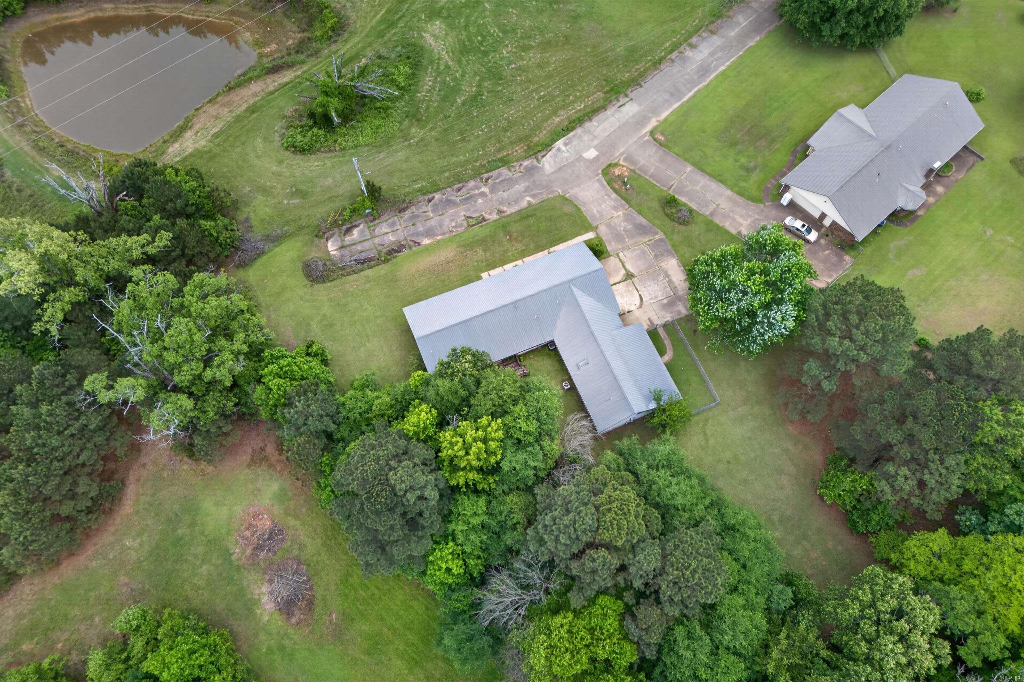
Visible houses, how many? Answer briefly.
2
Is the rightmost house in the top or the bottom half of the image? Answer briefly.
top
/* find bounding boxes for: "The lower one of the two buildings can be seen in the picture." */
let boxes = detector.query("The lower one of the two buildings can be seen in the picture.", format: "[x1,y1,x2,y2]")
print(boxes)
[403,242,683,434]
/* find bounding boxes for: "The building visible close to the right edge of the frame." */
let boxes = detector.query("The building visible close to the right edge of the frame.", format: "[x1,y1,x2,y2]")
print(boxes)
[778,73,984,245]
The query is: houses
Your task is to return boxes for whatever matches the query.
[778,73,984,245]
[403,242,683,434]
